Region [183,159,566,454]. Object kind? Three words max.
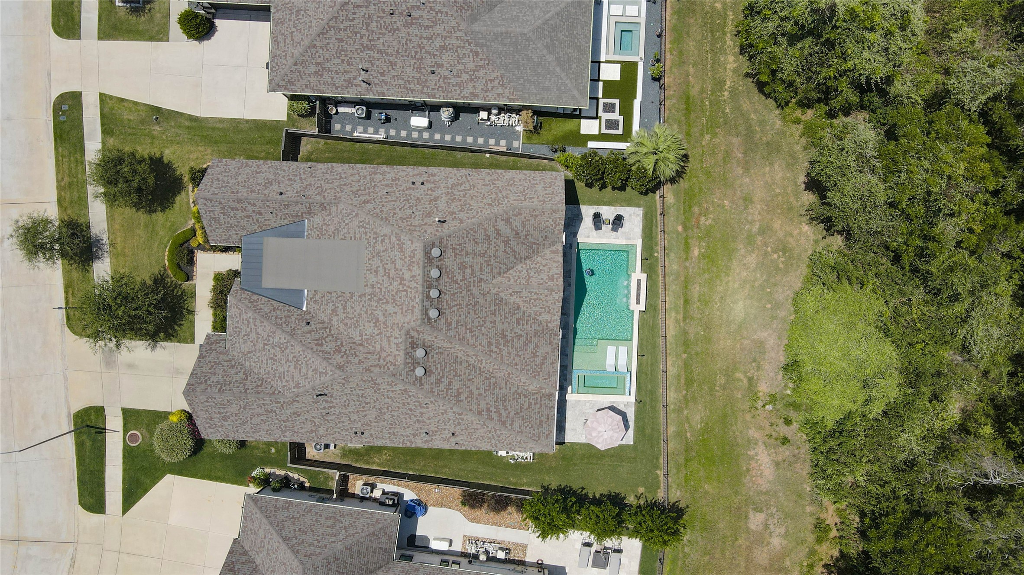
house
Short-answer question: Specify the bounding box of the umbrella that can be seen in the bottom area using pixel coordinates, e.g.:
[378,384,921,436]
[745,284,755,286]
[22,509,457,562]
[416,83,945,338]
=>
[582,407,626,448]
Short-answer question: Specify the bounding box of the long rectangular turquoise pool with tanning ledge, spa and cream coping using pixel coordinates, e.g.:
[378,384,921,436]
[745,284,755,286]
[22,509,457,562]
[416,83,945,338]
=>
[567,238,648,403]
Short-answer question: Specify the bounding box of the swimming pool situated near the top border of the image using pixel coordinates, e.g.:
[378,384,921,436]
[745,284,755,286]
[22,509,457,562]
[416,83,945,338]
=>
[602,0,647,61]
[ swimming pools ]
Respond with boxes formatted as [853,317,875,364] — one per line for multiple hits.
[567,238,648,403]
[602,0,647,61]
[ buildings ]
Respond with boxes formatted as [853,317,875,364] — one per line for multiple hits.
[178,0,594,114]
[220,486,570,575]
[183,159,566,454]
